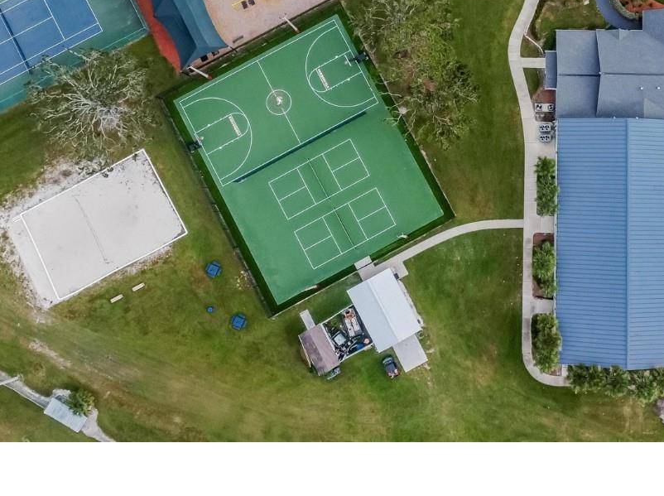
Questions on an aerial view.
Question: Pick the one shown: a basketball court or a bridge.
basketball court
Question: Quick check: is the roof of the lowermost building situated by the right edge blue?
Yes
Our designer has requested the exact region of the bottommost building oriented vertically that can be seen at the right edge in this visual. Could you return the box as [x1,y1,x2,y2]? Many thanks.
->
[558,118,664,371]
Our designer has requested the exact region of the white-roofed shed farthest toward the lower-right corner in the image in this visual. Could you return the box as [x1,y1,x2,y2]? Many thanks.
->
[347,268,421,352]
